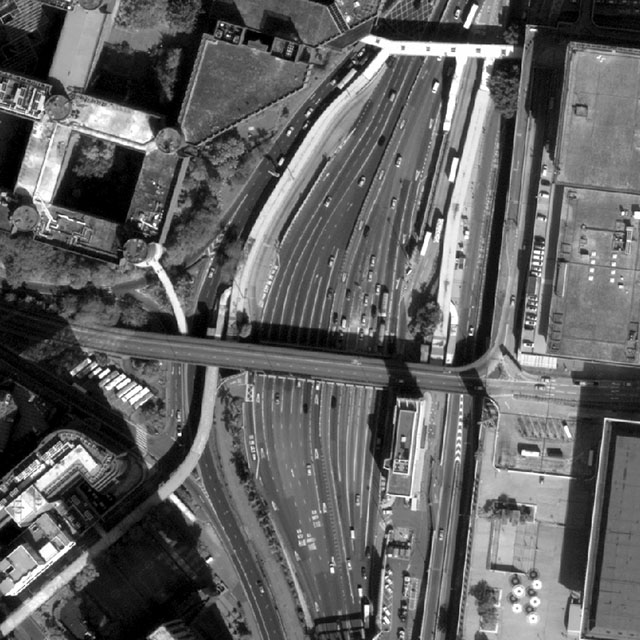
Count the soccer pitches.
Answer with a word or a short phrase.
zero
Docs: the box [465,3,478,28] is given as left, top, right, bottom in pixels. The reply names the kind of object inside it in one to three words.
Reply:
vehicle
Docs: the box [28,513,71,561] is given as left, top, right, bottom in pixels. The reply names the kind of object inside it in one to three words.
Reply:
building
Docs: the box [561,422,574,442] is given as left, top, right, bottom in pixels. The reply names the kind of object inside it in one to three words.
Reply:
vehicle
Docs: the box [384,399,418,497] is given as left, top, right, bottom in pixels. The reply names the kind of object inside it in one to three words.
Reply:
building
